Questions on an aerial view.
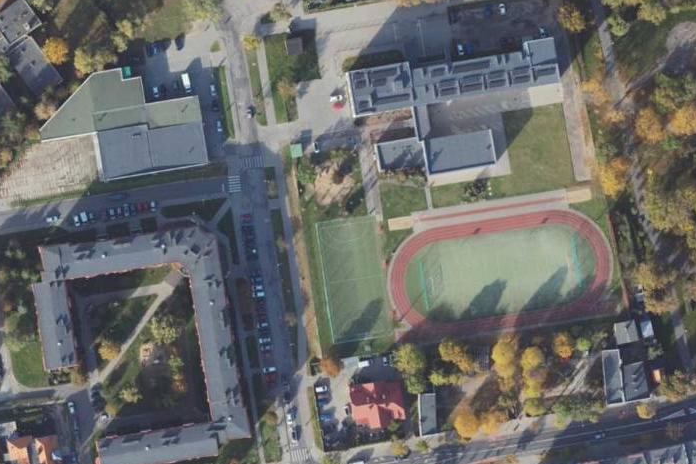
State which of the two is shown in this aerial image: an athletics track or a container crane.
athletics track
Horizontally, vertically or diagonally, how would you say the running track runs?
horizontally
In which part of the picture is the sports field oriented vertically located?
center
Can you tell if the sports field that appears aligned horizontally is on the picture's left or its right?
right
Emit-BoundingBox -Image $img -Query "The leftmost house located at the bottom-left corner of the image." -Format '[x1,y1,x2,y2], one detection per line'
[5,432,58,464]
